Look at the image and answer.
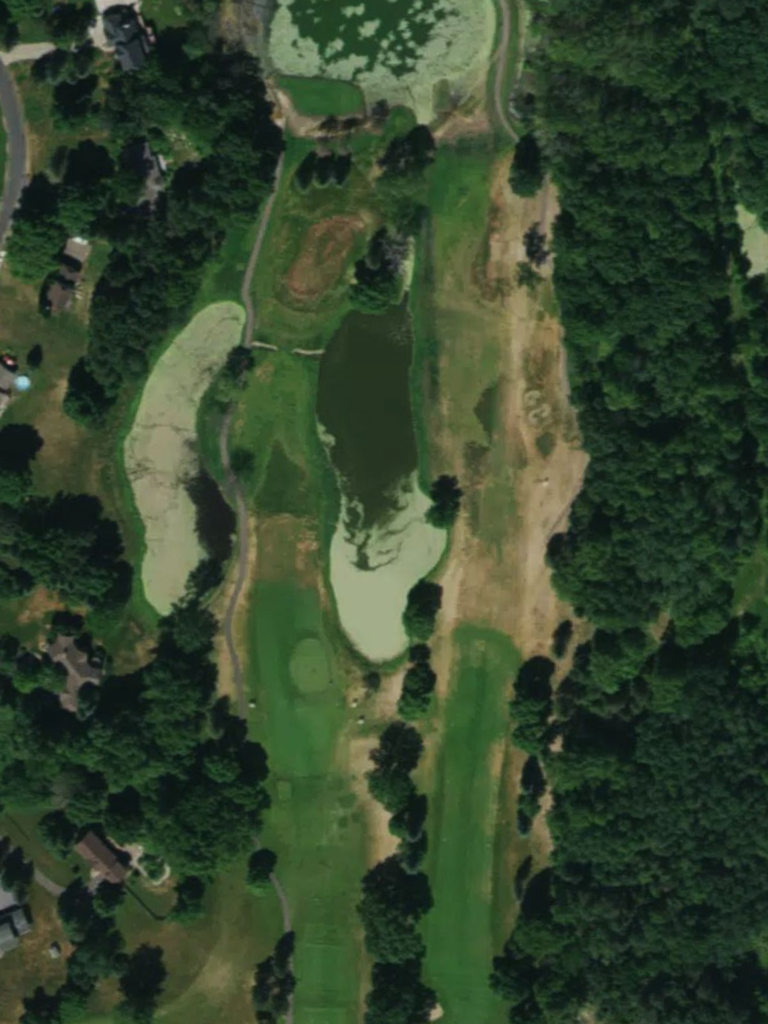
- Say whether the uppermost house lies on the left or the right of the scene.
left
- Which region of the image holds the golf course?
center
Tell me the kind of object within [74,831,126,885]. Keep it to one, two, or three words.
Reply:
house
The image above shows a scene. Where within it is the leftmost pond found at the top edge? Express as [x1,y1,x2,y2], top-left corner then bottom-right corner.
[263,0,500,126]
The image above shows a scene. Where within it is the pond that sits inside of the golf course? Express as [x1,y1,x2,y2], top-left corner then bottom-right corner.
[315,237,449,663]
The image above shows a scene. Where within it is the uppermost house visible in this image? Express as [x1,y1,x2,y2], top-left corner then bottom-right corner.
[98,3,151,71]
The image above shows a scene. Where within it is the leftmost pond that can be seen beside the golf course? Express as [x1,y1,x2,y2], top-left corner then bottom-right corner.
[123,300,246,617]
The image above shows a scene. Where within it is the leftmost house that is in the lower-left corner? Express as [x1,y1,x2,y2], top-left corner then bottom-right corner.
[0,911,29,951]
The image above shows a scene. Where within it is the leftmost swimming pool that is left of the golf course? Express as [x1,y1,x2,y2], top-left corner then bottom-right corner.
[15,374,31,391]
